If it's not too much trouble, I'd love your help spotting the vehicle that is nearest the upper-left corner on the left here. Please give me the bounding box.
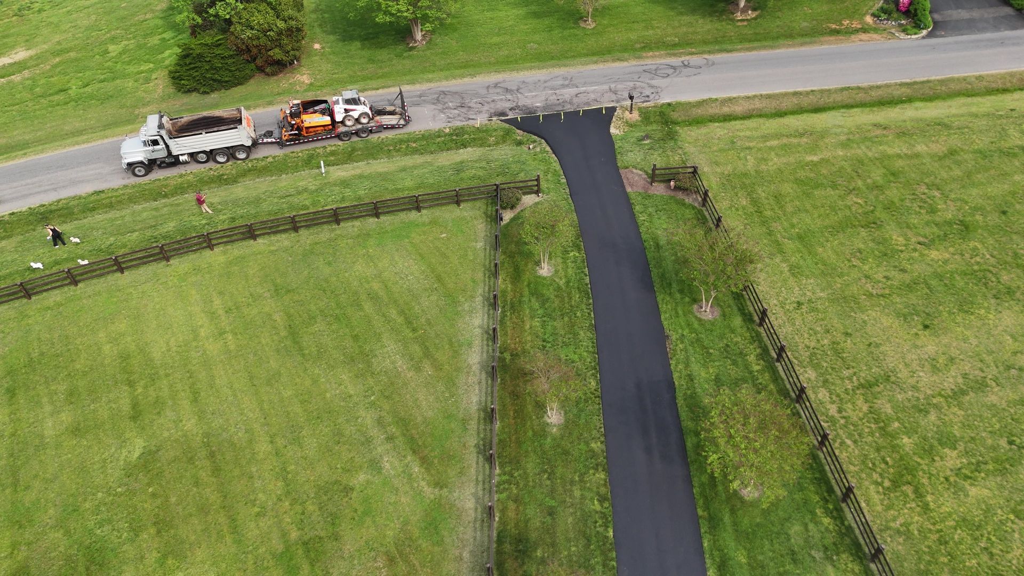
[124,104,258,177]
